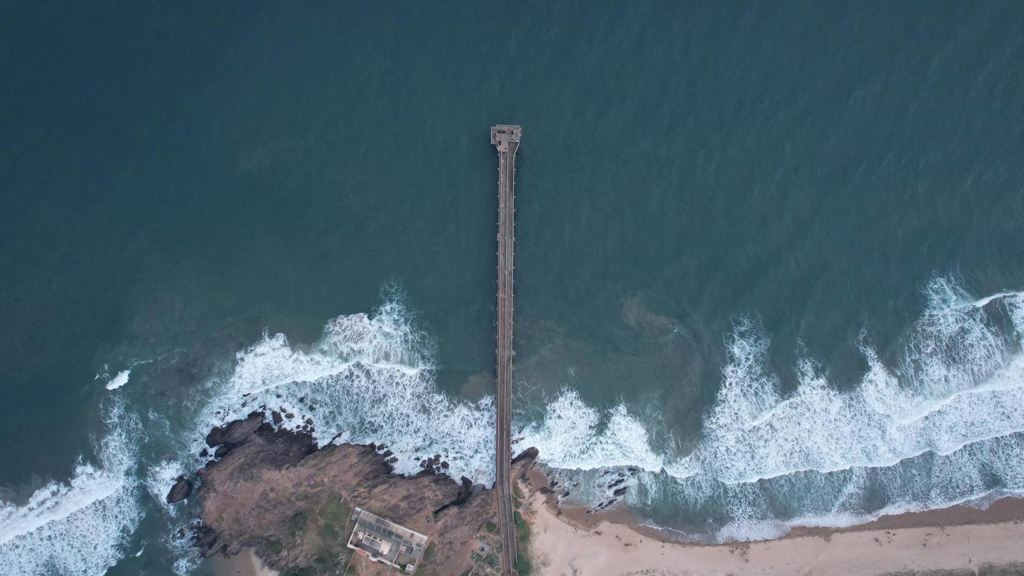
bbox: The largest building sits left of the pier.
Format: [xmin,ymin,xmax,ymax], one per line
[347,509,428,572]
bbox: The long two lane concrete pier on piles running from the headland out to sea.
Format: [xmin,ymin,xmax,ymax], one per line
[491,125,522,576]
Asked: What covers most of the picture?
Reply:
water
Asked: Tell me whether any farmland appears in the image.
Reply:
No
